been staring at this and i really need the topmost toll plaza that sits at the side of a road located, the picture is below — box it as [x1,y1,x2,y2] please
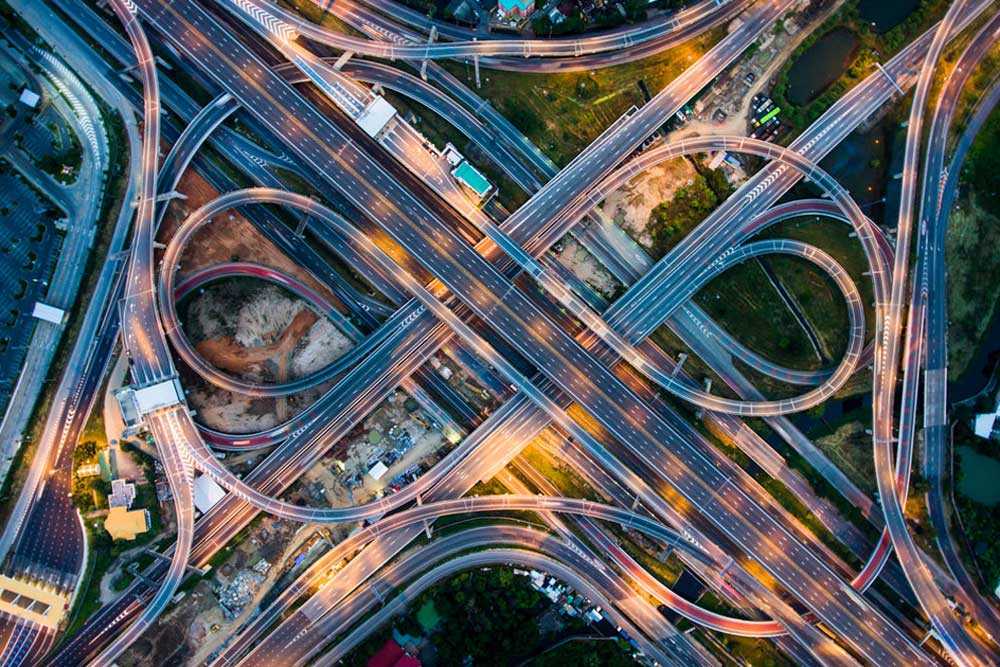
[332,79,420,148]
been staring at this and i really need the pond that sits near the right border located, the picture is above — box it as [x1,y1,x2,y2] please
[958,446,1000,502]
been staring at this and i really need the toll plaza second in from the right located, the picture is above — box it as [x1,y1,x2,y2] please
[132,350,181,426]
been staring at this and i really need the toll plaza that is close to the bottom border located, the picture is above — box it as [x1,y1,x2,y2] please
[0,571,73,652]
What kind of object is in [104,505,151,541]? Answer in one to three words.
house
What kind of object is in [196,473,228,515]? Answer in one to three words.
building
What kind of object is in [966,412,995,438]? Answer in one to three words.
building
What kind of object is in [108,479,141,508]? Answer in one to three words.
house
